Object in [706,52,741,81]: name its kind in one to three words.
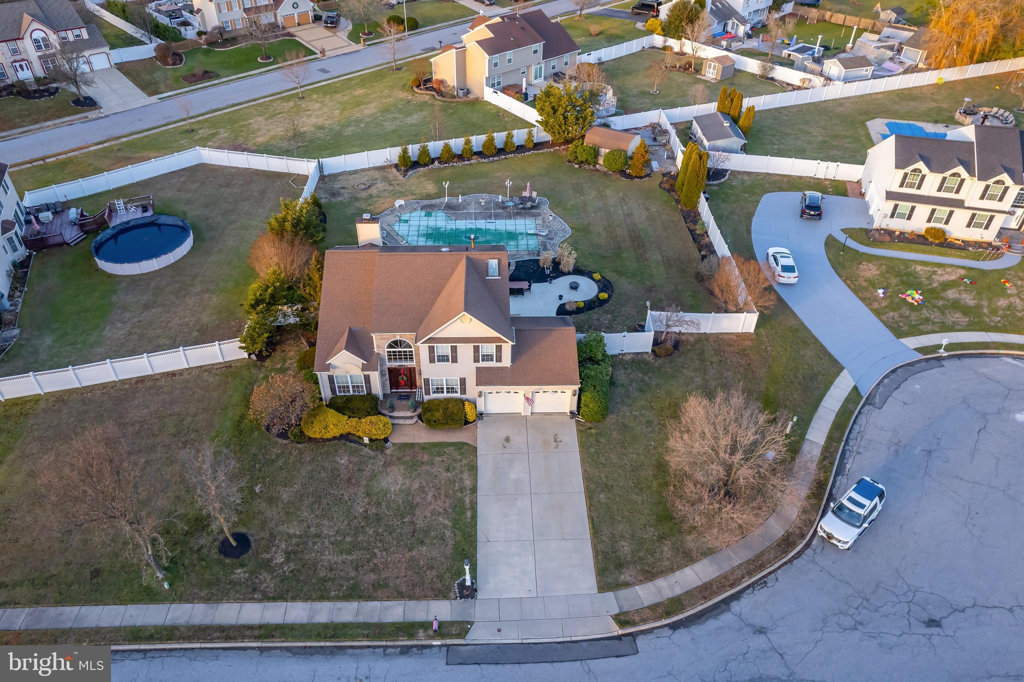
shed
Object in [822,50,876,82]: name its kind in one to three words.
shed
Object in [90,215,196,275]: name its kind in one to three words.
swimming pool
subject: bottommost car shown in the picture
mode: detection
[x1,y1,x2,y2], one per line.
[819,468,888,549]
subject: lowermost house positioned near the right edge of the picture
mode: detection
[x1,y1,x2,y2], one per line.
[863,126,1024,251]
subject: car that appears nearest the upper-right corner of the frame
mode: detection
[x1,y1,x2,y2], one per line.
[801,187,827,215]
